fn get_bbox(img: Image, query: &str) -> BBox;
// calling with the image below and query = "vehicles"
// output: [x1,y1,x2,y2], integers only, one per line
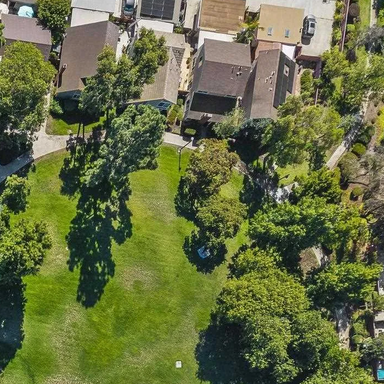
[122,0,136,14]
[303,11,318,37]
